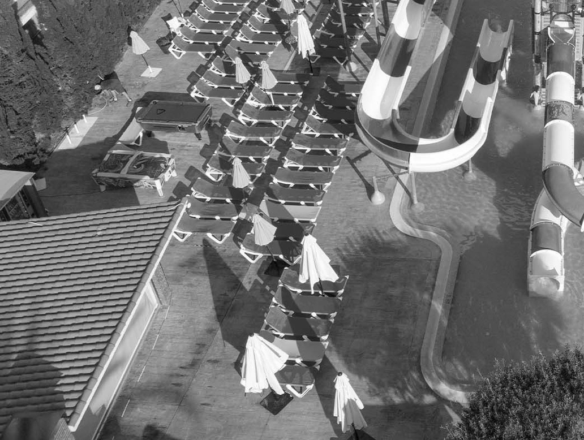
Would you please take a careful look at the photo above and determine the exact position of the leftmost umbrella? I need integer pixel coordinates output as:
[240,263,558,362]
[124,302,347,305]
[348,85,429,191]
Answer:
[132,32,151,70]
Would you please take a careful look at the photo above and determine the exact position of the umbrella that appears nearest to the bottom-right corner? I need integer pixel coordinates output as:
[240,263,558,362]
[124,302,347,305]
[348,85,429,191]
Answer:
[330,372,374,440]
